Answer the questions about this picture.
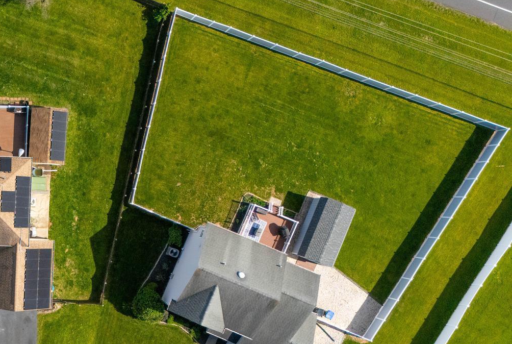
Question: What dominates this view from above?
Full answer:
The largest share of the image is taken up by grass.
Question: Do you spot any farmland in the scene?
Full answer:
No, there is no farmland in the image.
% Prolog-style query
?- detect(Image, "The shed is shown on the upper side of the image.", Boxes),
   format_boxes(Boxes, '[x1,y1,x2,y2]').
[30,108,68,165]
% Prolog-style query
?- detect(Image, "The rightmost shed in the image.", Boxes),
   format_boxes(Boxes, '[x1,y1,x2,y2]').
[291,196,355,268]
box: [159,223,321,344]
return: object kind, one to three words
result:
house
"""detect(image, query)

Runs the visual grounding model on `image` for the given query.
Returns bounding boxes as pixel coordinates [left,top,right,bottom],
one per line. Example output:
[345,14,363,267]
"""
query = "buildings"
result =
[291,196,355,268]
[0,156,54,312]
[159,223,321,344]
